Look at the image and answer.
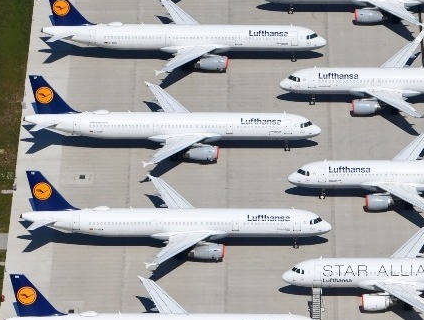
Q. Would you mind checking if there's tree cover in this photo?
No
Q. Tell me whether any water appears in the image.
No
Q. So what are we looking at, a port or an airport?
airport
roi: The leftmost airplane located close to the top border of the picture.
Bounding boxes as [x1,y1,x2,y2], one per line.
[40,0,326,75]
